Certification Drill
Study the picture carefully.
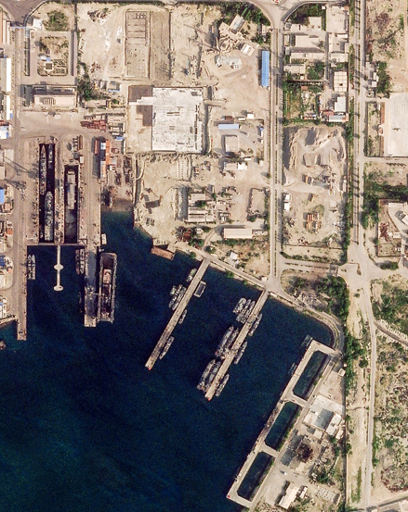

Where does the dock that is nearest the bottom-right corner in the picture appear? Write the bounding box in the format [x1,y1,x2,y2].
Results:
[206,290,270,398]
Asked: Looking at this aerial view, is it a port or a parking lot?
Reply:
port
